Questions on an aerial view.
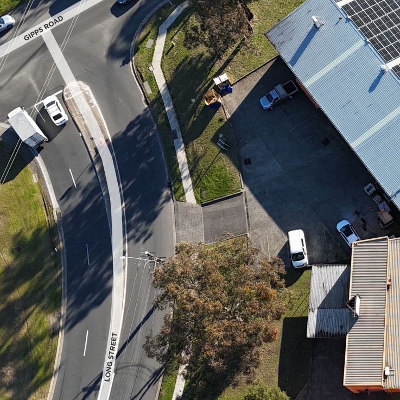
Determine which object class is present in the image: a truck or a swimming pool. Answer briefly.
truck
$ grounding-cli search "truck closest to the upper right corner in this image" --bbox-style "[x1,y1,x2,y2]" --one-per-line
[260,81,298,108]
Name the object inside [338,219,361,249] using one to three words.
car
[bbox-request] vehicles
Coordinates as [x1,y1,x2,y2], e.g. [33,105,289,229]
[338,219,361,249]
[0,17,17,34]
[260,81,298,108]
[44,97,68,125]
[288,227,308,269]
[7,106,45,150]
